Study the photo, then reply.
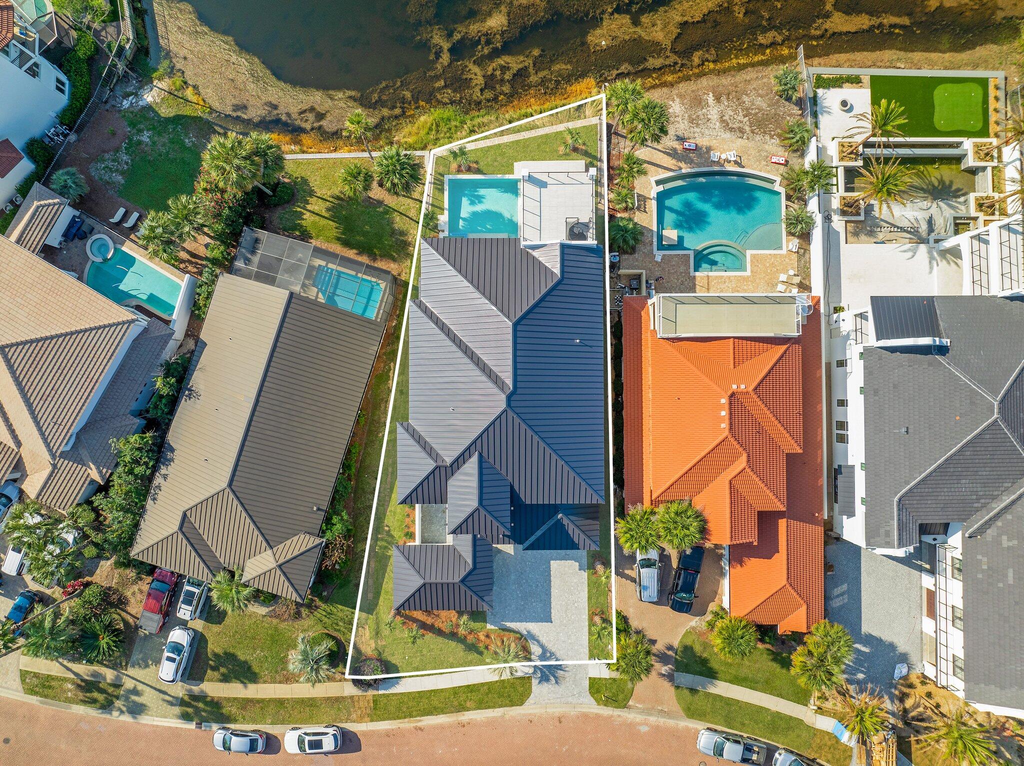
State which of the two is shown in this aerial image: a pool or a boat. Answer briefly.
pool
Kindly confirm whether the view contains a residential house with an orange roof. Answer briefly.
Yes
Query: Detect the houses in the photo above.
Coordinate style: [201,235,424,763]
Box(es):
[0,0,68,202]
[393,167,605,612]
[623,294,825,634]
[0,181,186,513]
[829,211,1024,713]
[129,272,388,604]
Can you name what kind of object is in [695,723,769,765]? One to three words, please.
truck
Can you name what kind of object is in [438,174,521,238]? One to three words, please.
swimming pool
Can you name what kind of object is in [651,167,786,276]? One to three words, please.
swimming pool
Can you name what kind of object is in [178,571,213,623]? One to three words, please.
car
